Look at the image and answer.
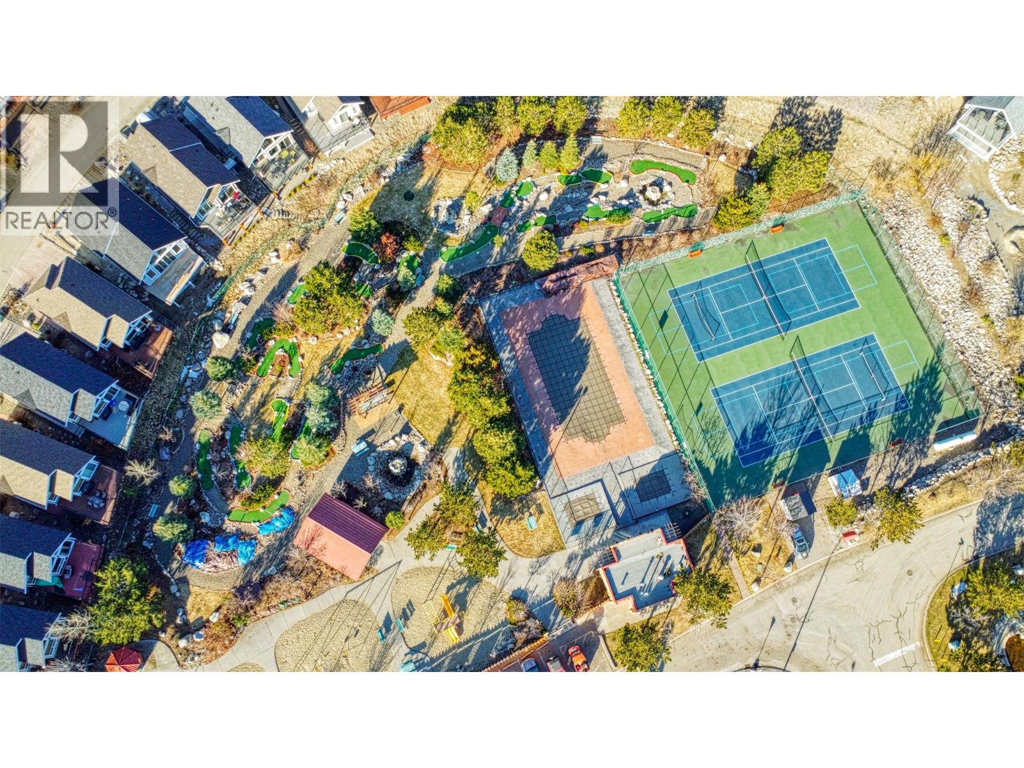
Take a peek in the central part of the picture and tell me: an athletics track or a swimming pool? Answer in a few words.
swimming pool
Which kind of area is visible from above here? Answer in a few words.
residential area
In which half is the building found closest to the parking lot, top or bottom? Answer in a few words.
bottom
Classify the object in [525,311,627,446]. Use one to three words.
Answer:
swimming pool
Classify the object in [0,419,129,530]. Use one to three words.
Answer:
house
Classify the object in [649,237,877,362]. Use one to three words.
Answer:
tennis court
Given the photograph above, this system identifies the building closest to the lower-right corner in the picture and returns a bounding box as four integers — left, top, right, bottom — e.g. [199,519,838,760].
[595,522,690,610]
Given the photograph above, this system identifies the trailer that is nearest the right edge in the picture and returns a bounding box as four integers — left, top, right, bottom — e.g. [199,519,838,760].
[818,464,868,505]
